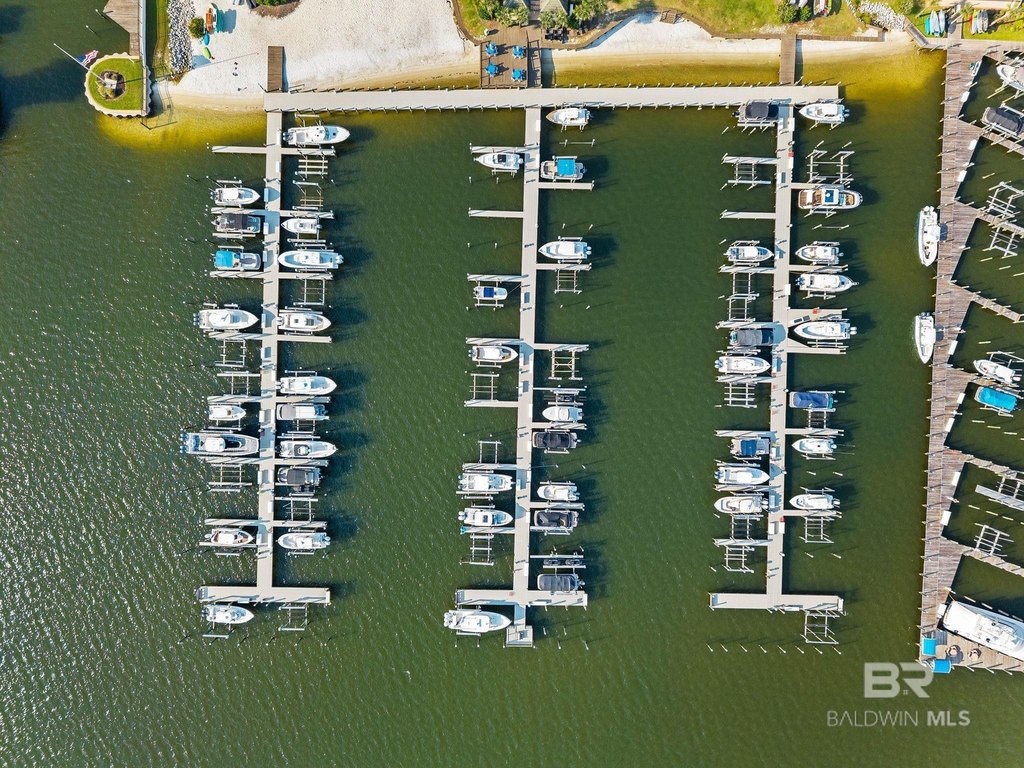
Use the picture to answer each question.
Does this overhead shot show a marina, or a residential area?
marina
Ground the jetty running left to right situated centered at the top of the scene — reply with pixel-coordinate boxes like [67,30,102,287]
[264,82,838,115]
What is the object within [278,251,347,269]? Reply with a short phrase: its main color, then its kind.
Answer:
white boat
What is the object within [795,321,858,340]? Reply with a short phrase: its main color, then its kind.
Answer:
white boat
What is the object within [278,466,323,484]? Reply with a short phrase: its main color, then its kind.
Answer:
gray boat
